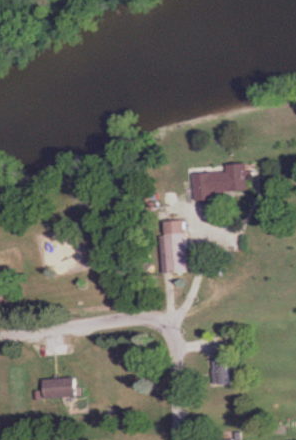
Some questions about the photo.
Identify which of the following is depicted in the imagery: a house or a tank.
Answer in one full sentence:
Visible in the photo is a house.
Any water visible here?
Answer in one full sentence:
Yes, there's water in this view.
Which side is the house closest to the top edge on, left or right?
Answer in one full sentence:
The house closest to the top edge sits on the right side.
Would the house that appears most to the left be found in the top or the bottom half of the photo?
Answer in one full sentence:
The house that appears most to the left is in the bottom half of the image.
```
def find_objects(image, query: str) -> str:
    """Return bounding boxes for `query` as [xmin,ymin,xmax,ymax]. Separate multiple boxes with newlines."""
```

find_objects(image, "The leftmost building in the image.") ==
[34,377,79,400]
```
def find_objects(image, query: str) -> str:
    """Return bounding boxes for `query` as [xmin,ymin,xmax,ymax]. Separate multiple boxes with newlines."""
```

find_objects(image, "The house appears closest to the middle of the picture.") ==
[159,220,190,272]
